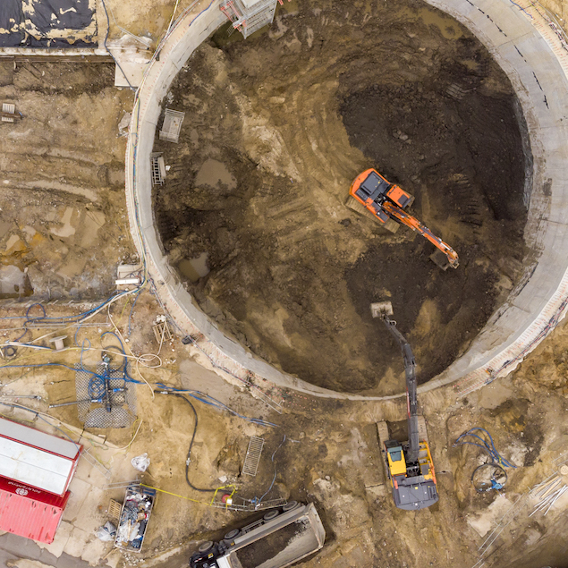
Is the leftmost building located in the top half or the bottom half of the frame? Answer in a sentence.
It is in the bottom half that the leftmost building appears.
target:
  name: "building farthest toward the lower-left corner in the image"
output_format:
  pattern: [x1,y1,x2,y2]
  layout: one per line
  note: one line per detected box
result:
[0,419,84,495]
